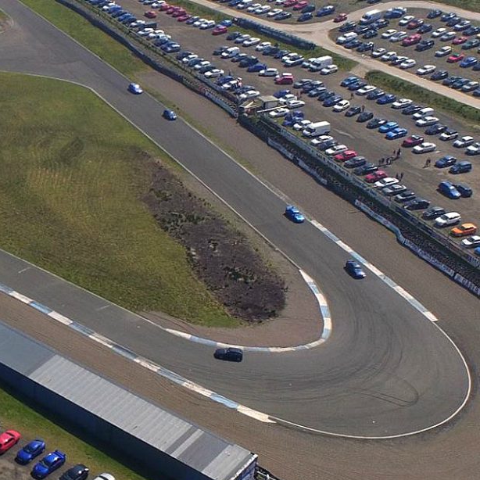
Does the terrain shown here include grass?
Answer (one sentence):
Yes, grass shows up in the scene.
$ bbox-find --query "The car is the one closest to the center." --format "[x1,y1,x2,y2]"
[282,204,307,222]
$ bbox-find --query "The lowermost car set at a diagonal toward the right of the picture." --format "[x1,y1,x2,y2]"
[340,258,369,280]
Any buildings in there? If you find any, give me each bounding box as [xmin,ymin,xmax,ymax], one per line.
[246,95,280,125]
[0,322,259,480]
